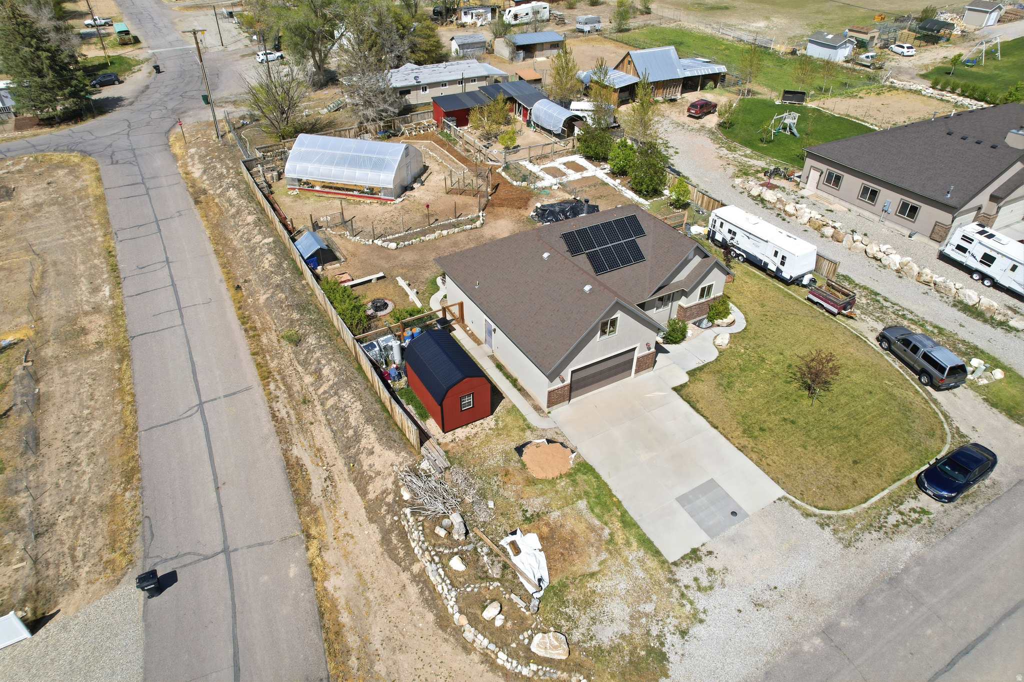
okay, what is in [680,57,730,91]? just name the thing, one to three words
shed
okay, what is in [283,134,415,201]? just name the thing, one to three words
greenhouse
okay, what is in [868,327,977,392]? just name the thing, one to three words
truck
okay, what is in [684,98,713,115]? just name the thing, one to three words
car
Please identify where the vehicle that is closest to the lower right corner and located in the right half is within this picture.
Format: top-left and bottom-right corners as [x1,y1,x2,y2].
[927,440,1004,497]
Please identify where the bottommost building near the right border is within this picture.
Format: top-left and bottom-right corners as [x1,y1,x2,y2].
[794,93,1024,251]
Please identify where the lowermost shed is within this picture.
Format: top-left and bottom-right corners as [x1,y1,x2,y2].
[402,328,495,433]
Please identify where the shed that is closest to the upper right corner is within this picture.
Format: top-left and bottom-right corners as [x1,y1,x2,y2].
[933,3,993,30]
